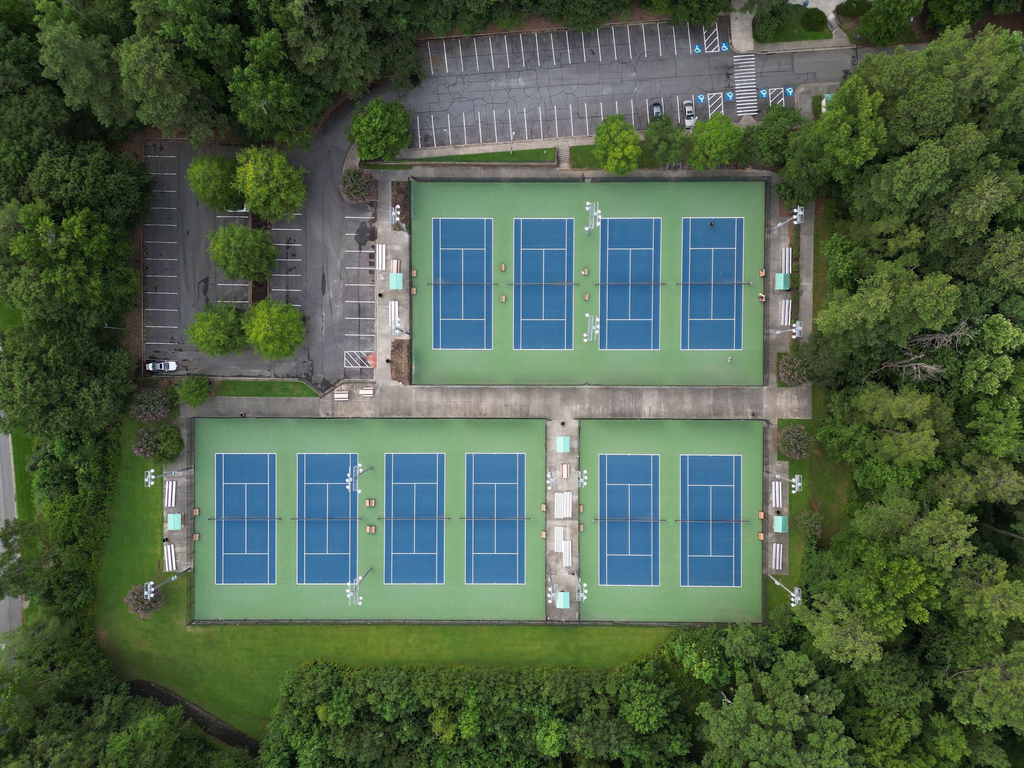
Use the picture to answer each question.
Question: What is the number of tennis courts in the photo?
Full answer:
The picture shows 10 tennis courts.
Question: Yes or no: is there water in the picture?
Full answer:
No, the picture contains no water.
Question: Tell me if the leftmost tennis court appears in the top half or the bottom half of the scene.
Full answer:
The bottom half of the photo is where the leftmost tennis court is.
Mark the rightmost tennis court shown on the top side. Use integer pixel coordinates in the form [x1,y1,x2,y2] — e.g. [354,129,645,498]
[677,217,754,350]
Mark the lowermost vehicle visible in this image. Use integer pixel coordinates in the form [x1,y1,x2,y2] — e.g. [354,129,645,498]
[149,360,178,372]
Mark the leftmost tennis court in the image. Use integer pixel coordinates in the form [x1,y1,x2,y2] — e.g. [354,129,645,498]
[205,453,281,584]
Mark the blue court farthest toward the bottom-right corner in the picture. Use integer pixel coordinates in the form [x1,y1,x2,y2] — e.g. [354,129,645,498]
[675,455,751,587]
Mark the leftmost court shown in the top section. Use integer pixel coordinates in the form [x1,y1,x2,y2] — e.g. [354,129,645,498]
[426,218,498,350]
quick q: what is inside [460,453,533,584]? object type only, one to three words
tennis court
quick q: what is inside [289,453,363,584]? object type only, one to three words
tennis court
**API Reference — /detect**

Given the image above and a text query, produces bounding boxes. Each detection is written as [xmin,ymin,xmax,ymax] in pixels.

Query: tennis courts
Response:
[507,218,580,350]
[675,455,751,587]
[677,217,754,350]
[205,453,281,584]
[594,218,668,350]
[592,454,667,586]
[377,453,451,584]
[289,453,363,584]
[460,453,533,584]
[426,218,498,350]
